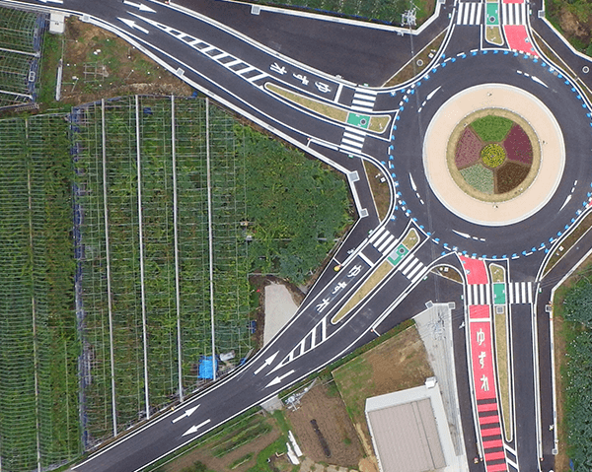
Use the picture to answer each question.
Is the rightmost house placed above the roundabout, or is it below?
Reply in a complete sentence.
It's below the roundabout that the rightmost house shows up.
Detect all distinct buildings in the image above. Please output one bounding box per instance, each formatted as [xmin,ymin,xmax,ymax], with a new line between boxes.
[49,10,69,34]
[367,376,460,472]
